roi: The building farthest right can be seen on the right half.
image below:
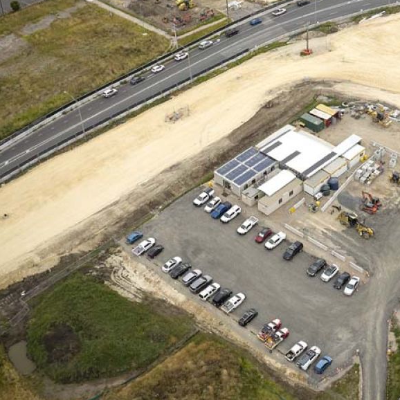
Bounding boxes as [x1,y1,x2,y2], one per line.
[341,144,365,169]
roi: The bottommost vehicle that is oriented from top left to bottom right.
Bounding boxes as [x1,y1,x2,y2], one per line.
[339,211,376,239]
